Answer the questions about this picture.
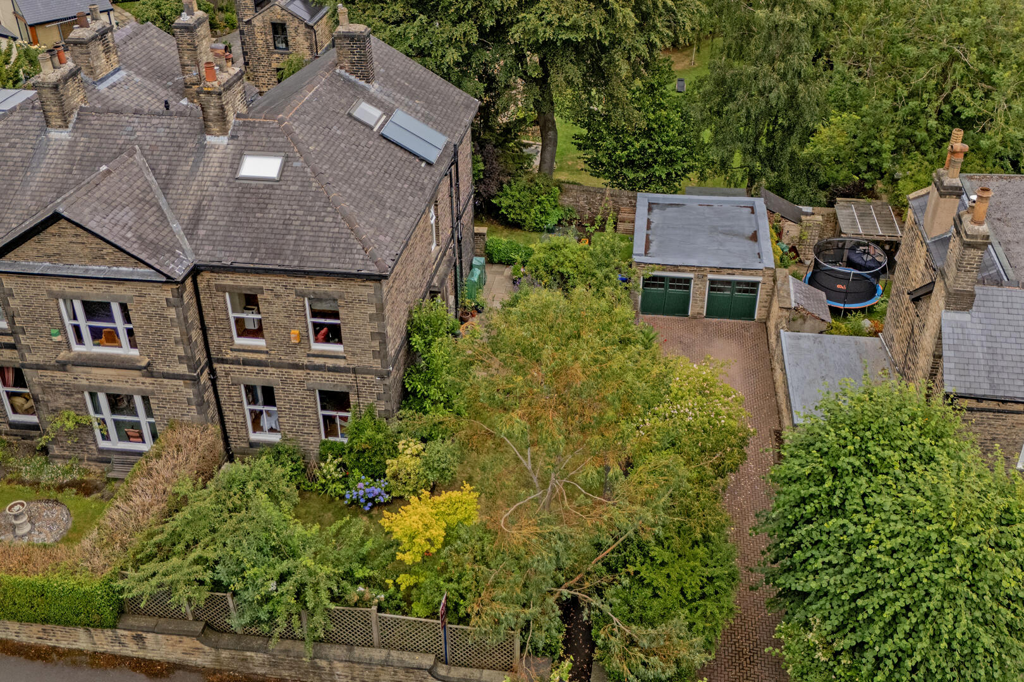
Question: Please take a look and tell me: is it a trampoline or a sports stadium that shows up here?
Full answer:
Of the two, only a trampoline appears.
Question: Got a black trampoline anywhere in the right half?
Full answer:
Yes, looking in the right half, one can make out a black trampoline.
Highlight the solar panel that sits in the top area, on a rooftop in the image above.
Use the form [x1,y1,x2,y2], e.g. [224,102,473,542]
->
[380,104,451,164]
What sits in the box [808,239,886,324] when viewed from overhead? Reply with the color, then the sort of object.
black trampoline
